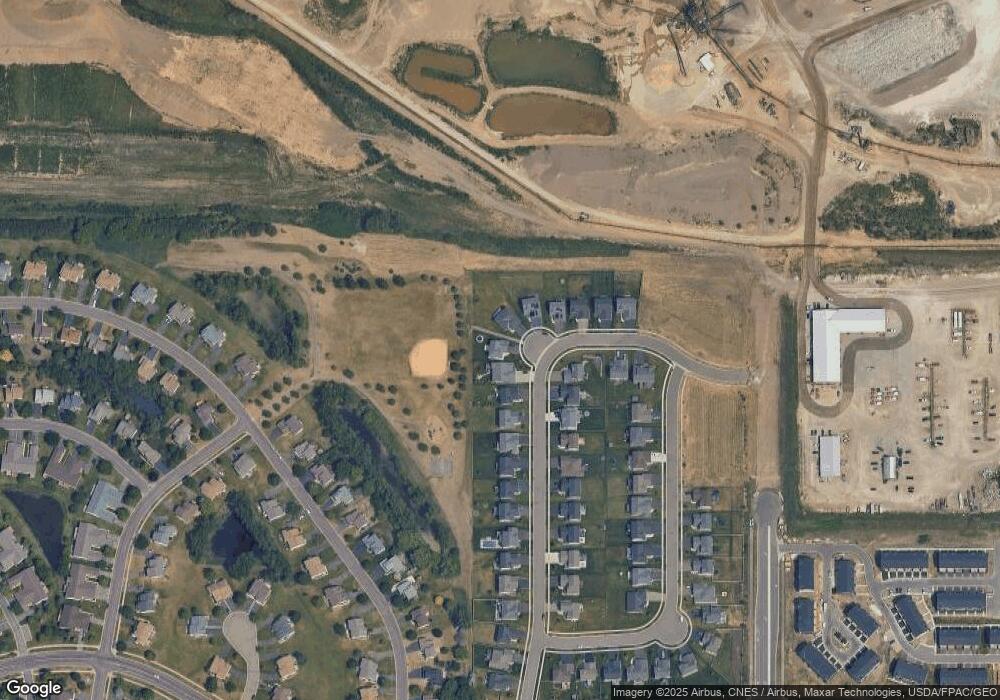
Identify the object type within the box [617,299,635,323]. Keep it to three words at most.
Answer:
house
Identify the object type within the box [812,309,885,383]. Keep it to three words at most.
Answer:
building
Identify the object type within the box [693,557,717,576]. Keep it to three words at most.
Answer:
house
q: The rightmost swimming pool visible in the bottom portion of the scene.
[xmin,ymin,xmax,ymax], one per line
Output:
[477,535,498,550]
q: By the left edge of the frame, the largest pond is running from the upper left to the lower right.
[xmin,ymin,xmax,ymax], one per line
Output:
[7,491,62,568]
